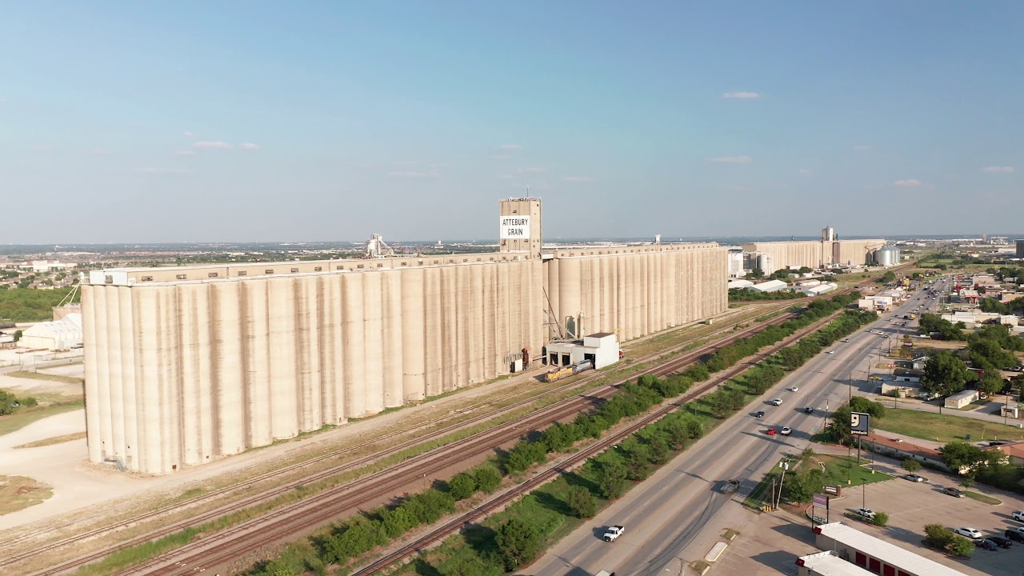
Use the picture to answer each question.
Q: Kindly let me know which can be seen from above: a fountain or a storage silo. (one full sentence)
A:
I can see a storage silo in this picture.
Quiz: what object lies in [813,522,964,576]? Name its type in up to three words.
building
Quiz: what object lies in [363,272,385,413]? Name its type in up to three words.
silo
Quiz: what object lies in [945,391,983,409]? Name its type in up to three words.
house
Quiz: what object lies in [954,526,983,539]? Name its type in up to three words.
vehicle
